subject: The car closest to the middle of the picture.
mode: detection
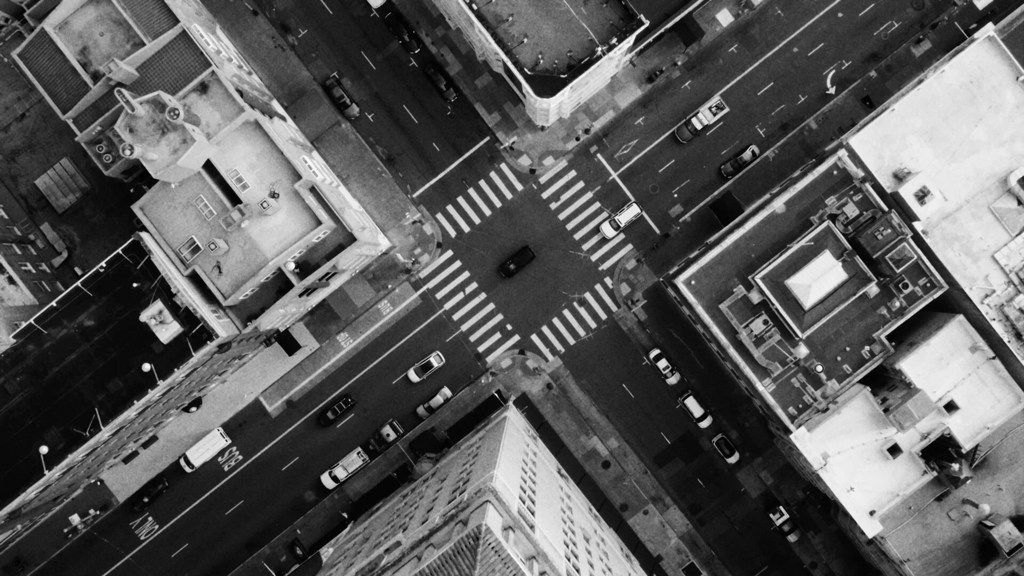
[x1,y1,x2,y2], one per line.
[499,243,538,278]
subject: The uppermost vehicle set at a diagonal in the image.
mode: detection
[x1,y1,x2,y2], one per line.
[384,10,424,56]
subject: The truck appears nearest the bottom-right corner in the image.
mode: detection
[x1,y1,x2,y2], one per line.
[766,504,799,542]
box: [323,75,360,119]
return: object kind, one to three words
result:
car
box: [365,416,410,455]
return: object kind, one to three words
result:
truck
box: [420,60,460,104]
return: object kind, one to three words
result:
car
